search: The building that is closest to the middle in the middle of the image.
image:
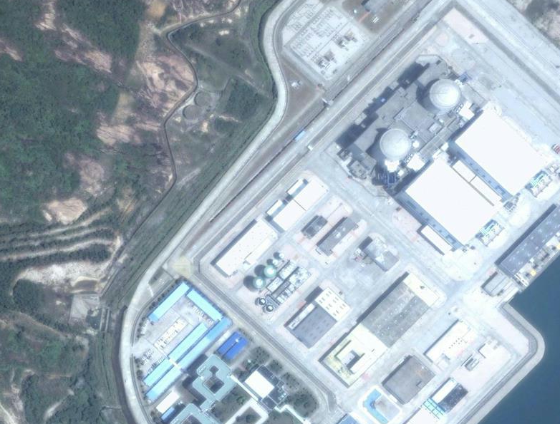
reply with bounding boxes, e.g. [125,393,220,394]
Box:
[272,200,305,232]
